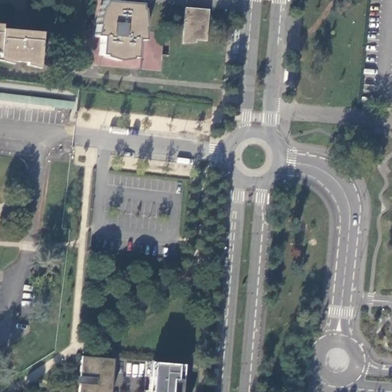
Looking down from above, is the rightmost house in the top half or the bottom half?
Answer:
top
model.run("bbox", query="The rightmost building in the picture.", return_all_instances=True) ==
[182,6,211,44]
